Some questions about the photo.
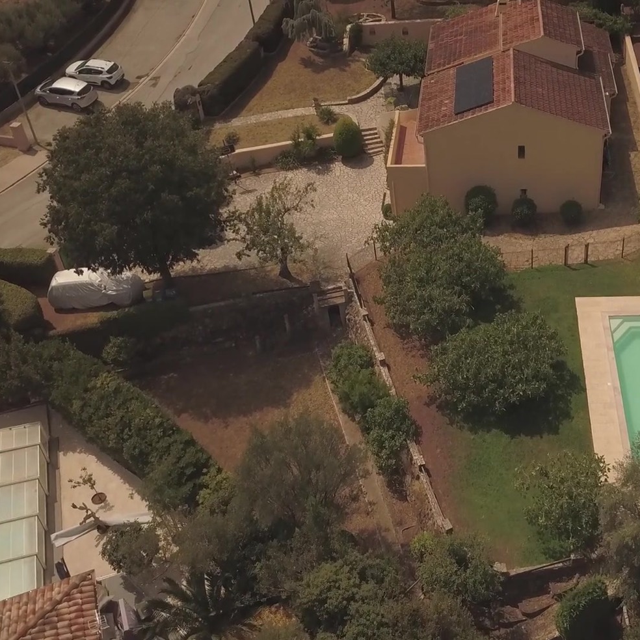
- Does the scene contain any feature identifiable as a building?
Yes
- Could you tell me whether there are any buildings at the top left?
No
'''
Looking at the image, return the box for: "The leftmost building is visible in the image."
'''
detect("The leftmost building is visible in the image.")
[0,567,107,640]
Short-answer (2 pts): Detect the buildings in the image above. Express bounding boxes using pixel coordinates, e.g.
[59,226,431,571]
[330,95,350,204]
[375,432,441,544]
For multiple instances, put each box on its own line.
[0,567,107,640]
[387,0,620,215]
